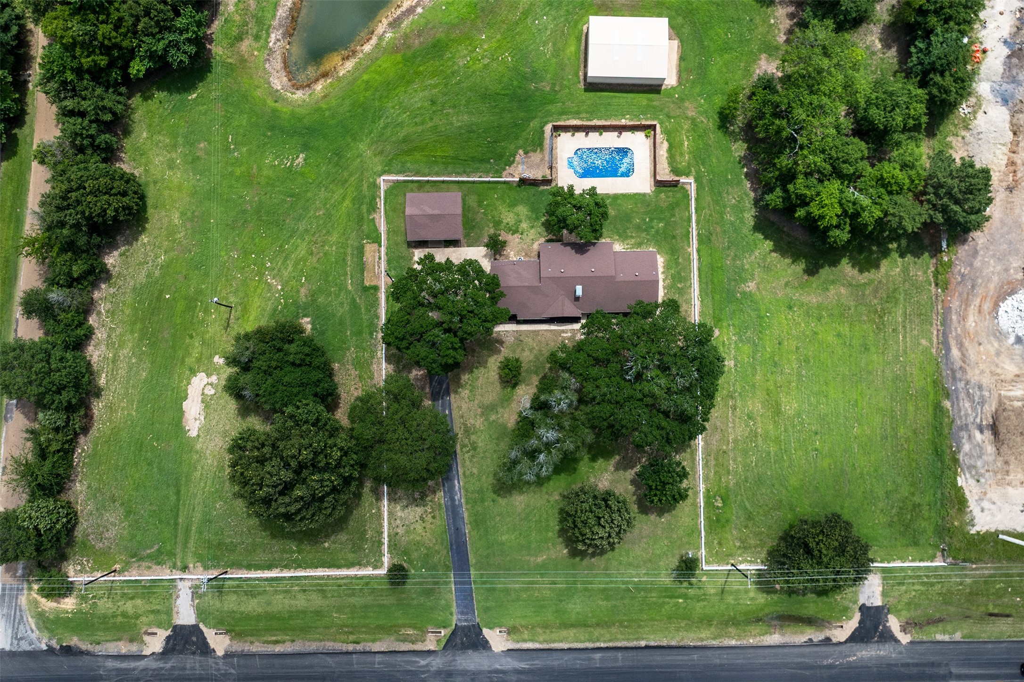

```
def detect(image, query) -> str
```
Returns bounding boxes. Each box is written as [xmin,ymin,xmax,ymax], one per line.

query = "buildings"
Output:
[490,241,659,320]
[586,14,668,85]
[405,192,462,245]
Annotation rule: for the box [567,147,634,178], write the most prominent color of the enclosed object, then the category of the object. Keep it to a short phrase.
blue swimming pool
